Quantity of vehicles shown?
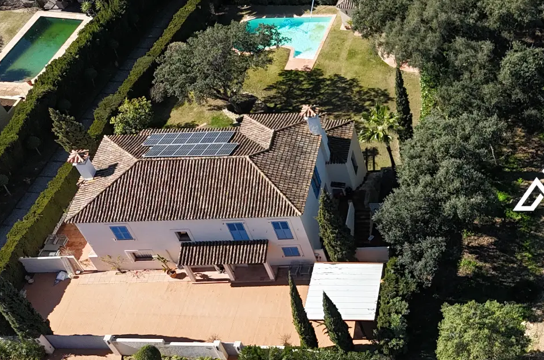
0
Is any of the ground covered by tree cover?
Yes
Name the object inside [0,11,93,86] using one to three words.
swimming pool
